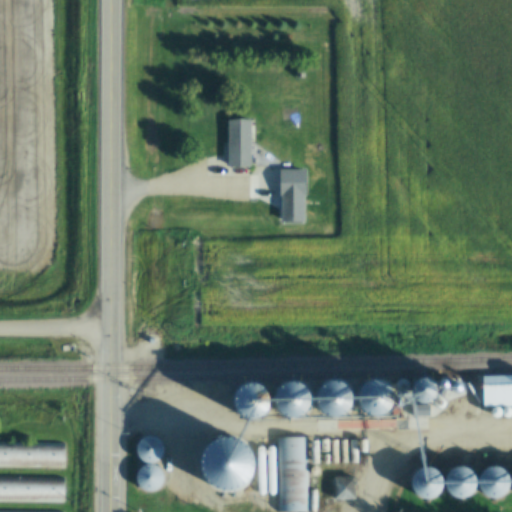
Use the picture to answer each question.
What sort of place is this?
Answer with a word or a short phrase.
industrial area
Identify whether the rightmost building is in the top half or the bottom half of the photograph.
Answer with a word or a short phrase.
bottom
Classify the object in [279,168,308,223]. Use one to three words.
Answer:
house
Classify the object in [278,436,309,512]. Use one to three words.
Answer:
shed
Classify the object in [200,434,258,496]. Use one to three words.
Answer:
silo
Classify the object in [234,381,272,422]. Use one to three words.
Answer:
silo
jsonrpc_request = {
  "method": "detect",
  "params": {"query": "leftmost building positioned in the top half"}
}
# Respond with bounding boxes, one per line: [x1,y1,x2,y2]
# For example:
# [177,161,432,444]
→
[229,119,252,167]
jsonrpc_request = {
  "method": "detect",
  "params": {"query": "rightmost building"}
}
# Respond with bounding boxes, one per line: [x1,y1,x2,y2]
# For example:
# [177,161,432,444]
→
[483,376,512,404]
